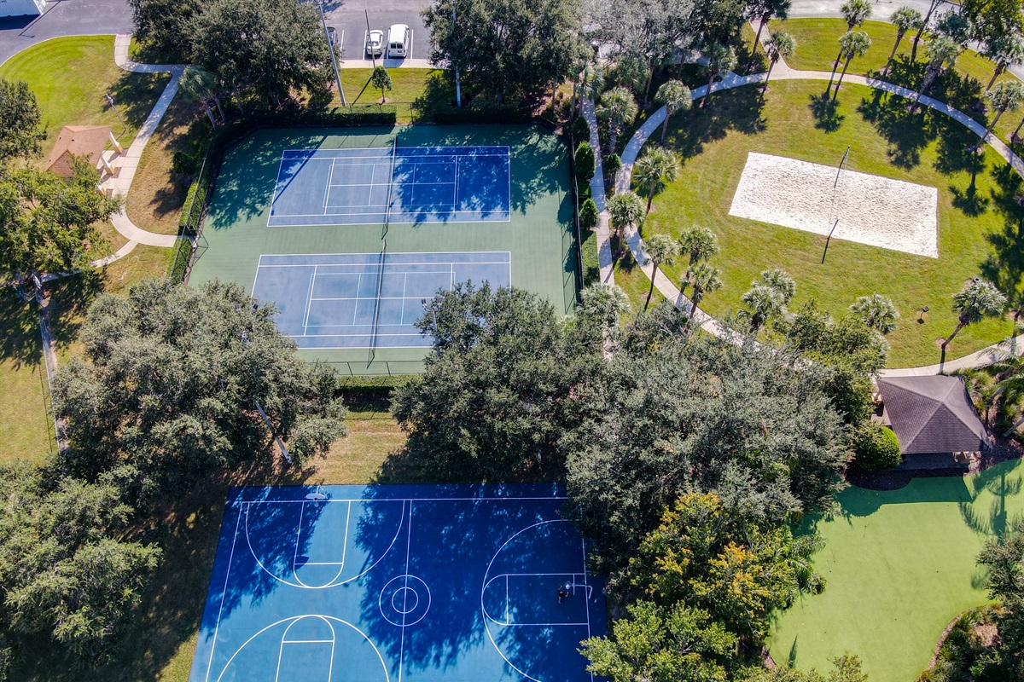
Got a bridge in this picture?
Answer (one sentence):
No, I can't see a single bridge in this photo.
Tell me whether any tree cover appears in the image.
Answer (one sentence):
Yes, tree cover can be seen from above here.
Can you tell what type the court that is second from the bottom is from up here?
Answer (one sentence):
Specifically, the court that is second from the bottom is a tennis court.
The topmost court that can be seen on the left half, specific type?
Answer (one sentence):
What you see as the topmost court that can be seen on the left half is a tennis court.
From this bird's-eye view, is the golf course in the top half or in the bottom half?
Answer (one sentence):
The golf course is in the bottom half of the image.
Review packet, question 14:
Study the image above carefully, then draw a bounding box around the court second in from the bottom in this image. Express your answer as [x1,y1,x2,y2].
[241,251,512,350]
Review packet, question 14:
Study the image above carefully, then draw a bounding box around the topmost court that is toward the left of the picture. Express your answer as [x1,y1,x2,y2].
[268,145,510,225]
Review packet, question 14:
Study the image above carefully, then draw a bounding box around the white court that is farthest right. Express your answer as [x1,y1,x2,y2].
[728,150,940,259]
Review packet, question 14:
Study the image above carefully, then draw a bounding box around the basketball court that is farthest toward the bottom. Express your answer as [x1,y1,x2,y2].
[189,481,608,682]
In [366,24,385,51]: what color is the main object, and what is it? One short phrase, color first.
white car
